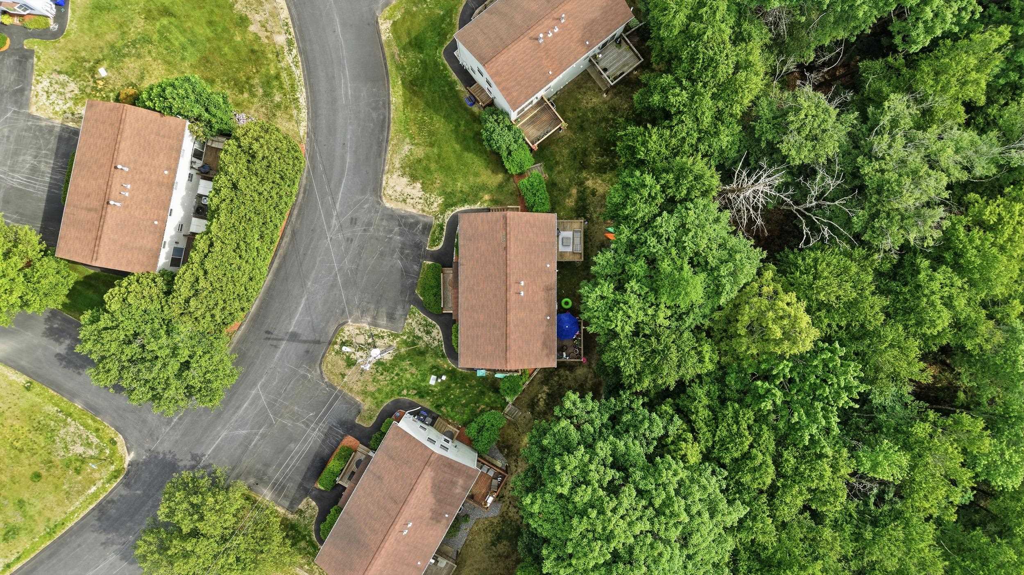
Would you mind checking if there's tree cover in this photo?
Yes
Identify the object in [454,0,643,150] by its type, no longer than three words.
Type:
house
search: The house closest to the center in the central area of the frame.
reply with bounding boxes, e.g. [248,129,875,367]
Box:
[441,208,583,373]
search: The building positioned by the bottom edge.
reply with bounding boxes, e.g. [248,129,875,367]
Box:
[314,410,508,575]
